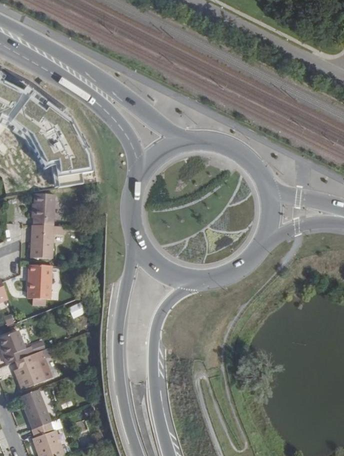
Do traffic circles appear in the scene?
Yes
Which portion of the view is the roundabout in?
center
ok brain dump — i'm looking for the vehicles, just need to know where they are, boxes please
[4,230,10,240]
[118,334,123,344]
[11,262,16,272]
[138,240,148,251]
[7,38,18,47]
[134,230,142,240]
[234,259,244,267]
[331,200,344,207]
[124,96,136,106]
[149,263,160,273]
[134,180,140,198]
[56,76,94,104]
